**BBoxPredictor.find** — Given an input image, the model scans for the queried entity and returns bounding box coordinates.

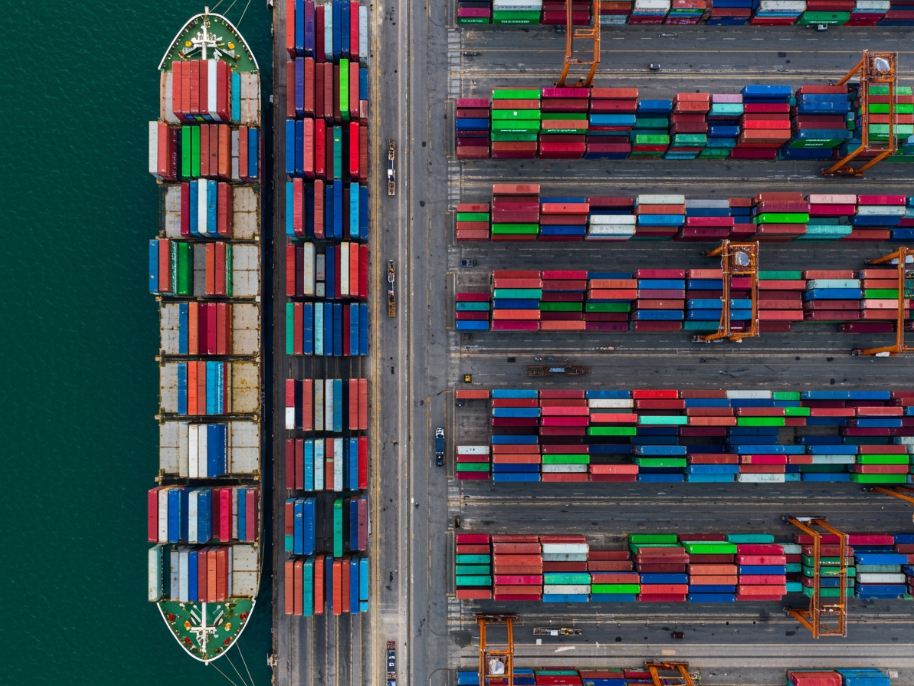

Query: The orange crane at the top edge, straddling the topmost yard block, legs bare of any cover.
[553,0,603,86]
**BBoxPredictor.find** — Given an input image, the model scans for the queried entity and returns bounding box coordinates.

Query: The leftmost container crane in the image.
[473,614,516,686]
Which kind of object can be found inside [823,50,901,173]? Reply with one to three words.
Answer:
container crane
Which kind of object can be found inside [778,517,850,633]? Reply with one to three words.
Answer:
container crane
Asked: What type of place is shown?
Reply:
port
